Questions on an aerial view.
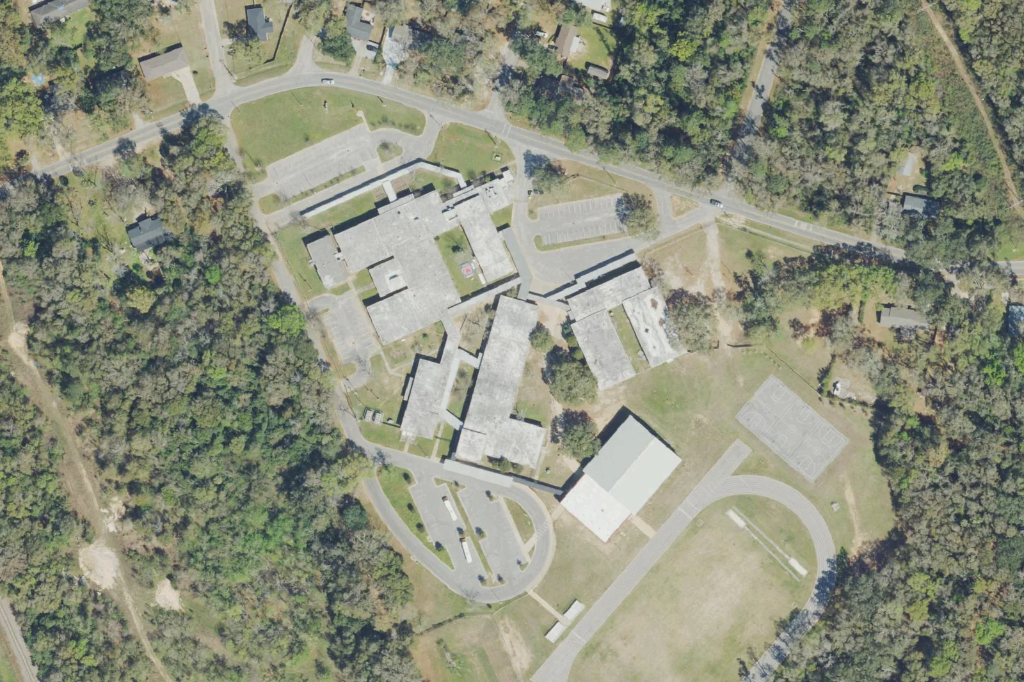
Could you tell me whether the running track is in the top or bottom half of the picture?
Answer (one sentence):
Seen from above, the running track lies in the bottom half of the view.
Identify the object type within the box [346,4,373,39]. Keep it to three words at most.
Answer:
house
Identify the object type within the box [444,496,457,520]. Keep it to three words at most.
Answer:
vehicle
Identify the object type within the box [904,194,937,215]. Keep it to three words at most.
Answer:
house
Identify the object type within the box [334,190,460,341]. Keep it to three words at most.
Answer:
building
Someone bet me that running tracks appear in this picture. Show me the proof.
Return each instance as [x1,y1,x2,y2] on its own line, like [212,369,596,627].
[532,438,835,682]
